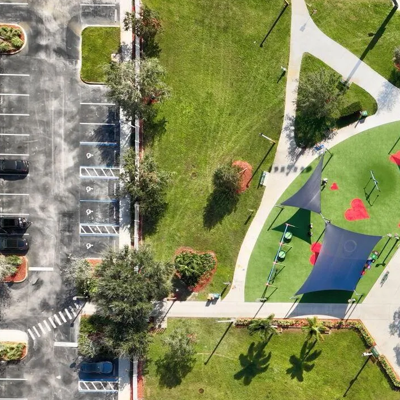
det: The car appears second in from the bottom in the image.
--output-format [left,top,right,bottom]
[0,237,29,251]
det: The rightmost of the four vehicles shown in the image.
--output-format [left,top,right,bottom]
[80,360,113,375]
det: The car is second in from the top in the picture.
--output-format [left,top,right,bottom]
[0,216,29,229]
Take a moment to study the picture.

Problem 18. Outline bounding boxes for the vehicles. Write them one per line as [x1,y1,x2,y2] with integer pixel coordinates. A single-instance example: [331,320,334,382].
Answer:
[80,360,113,375]
[0,216,29,229]
[0,237,29,251]
[0,158,32,173]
